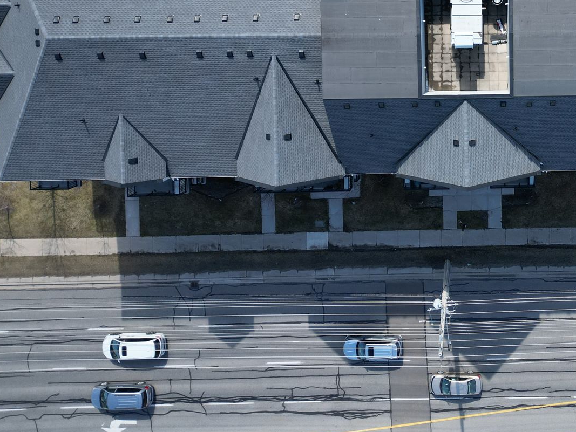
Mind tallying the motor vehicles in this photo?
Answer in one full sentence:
The count of motor vehicles comes to 4.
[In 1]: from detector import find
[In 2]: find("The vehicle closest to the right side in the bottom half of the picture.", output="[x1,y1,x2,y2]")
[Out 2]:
[430,370,483,399]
